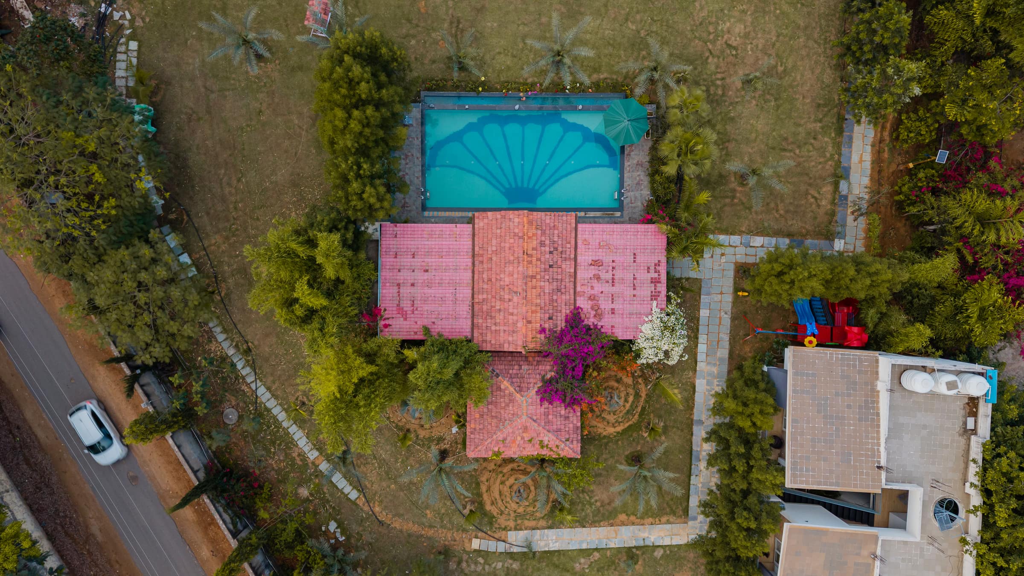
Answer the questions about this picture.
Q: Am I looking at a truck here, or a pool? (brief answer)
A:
pool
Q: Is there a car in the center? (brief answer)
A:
No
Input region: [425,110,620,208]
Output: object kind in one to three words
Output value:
swimming pool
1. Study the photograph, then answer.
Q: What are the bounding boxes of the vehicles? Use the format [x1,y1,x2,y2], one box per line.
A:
[62,399,128,469]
